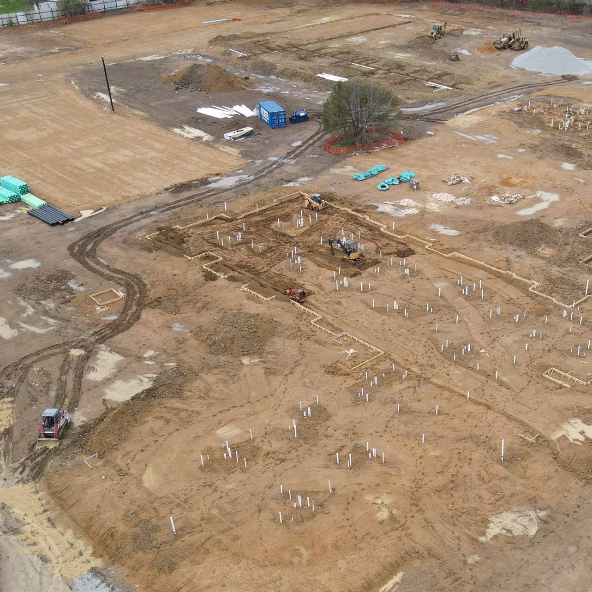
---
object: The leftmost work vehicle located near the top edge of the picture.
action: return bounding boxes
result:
[427,16,445,40]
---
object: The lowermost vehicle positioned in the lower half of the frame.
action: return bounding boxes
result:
[32,407,74,451]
